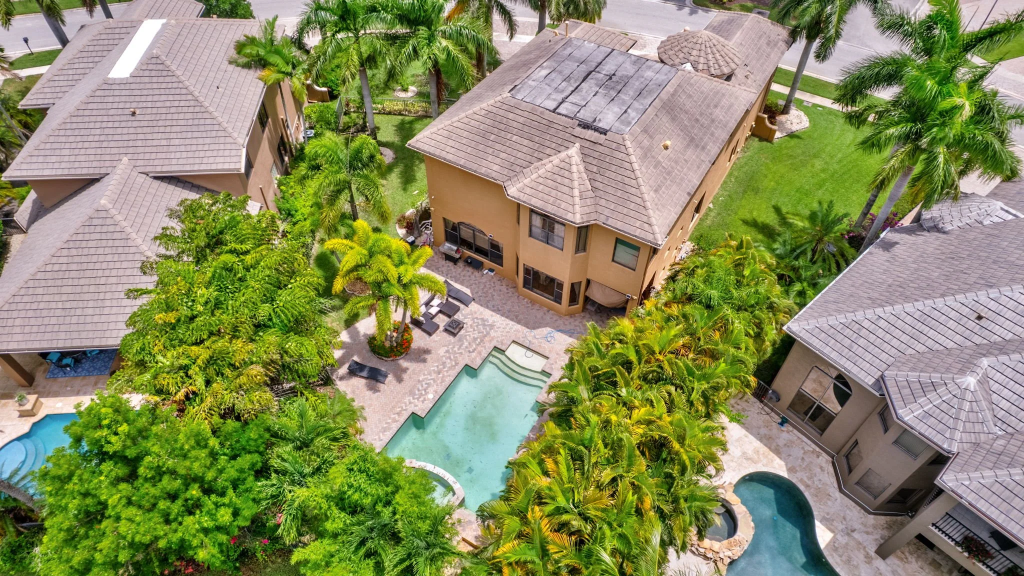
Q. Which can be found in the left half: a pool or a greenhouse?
pool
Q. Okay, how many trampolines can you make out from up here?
none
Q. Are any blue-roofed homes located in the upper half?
No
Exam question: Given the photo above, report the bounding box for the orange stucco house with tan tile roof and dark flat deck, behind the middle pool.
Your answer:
[403,7,795,330]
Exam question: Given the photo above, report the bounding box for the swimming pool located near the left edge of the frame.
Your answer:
[0,413,164,524]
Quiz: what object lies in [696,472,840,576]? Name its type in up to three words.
swimming pool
